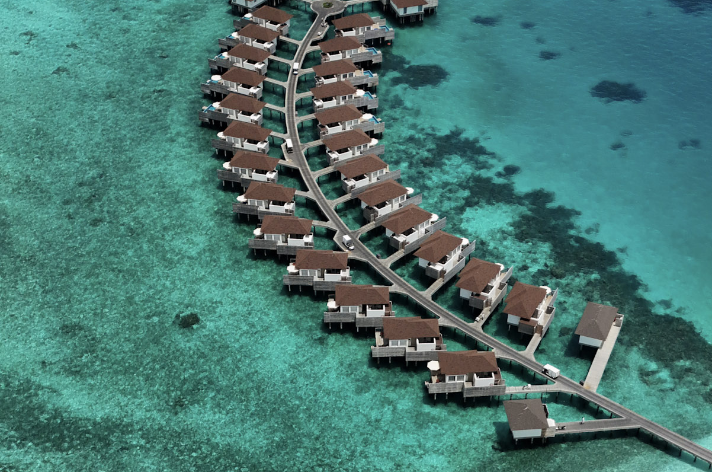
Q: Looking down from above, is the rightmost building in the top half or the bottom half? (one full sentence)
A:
Seen from above, the rightmost building lies in the bottom half of the view.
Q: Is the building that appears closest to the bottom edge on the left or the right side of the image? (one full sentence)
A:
The building that appears closest to the bottom edge sits on the right side.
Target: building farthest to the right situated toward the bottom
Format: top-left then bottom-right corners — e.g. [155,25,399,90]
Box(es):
[572,301,622,366]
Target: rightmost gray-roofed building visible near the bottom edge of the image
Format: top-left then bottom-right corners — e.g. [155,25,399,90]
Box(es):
[502,398,557,457]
